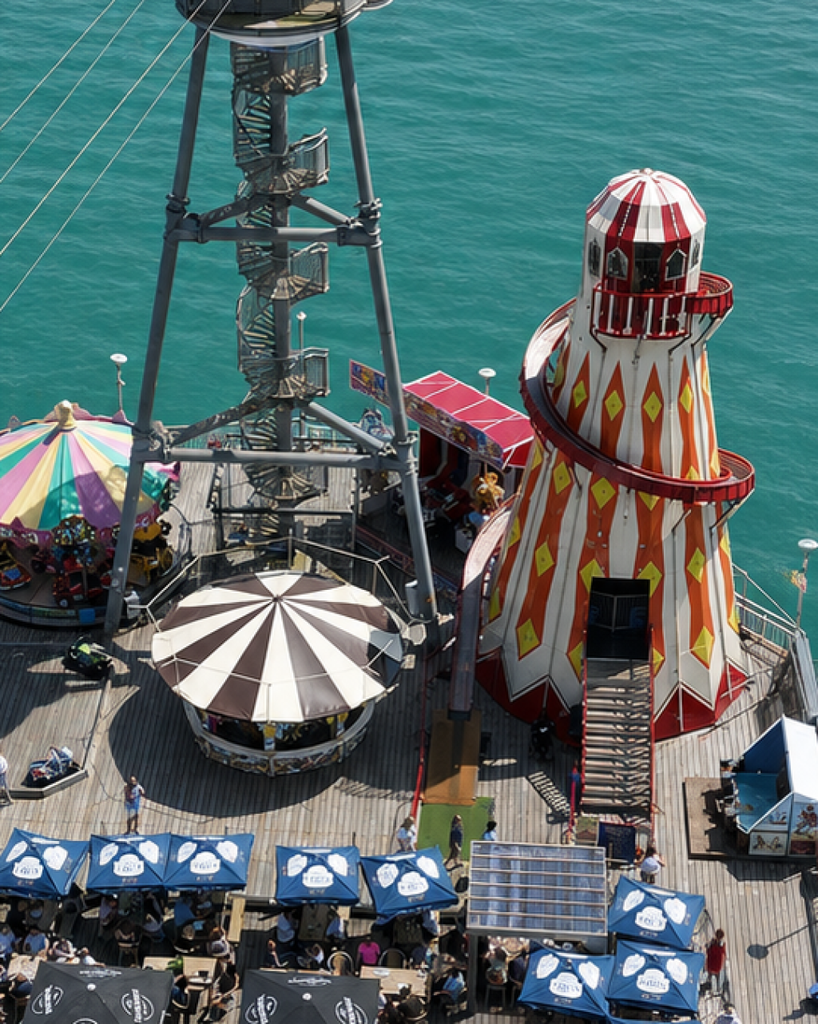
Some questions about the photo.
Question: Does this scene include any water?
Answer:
Yes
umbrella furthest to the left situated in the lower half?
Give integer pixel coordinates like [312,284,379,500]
[0,831,85,909]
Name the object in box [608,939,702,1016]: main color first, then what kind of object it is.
blue umbrella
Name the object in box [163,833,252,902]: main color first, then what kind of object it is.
blue umbrella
